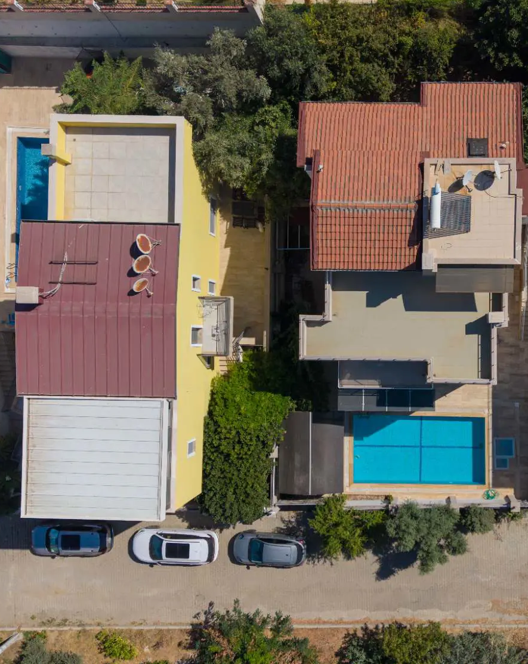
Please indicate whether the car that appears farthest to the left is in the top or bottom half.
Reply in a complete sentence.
You can find the car that appears farthest to the left in the bottom half.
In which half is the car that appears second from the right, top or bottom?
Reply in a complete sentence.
The car that appears second from the right sits in the bottom half of the picture.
